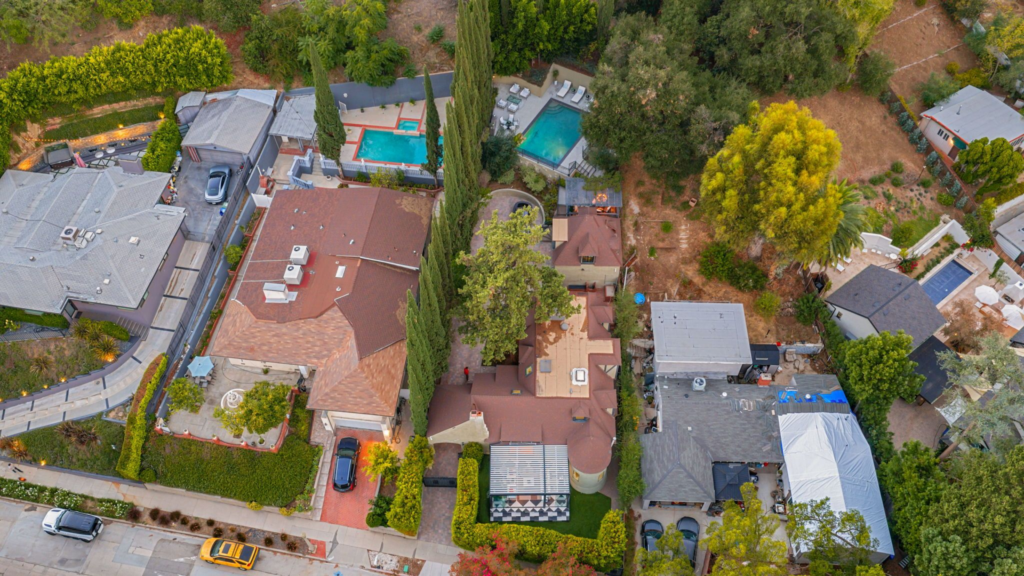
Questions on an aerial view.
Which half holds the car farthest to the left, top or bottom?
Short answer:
bottom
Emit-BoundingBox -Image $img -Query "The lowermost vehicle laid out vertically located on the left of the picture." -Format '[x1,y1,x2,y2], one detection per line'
[328,437,360,493]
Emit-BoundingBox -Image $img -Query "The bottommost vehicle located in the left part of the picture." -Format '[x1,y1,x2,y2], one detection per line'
[194,535,257,574]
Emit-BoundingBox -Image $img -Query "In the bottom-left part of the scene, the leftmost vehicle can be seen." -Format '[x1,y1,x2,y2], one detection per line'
[34,506,102,546]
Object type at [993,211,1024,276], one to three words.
shed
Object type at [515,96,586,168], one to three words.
swimming pool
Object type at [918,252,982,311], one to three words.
swimming pool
